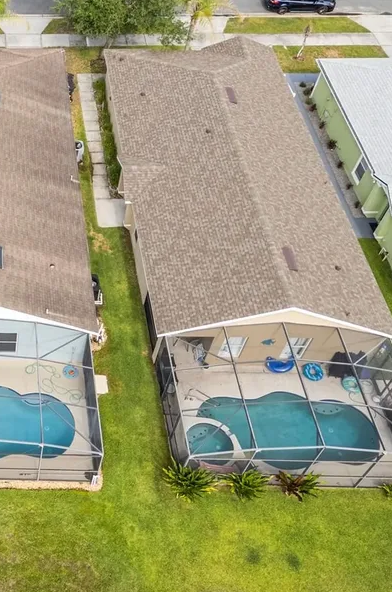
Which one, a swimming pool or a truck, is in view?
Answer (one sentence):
This aerial view contains a swimming pool.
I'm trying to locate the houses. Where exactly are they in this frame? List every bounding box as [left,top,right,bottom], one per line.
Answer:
[103,32,392,372]
[313,57,392,274]
[0,48,100,362]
